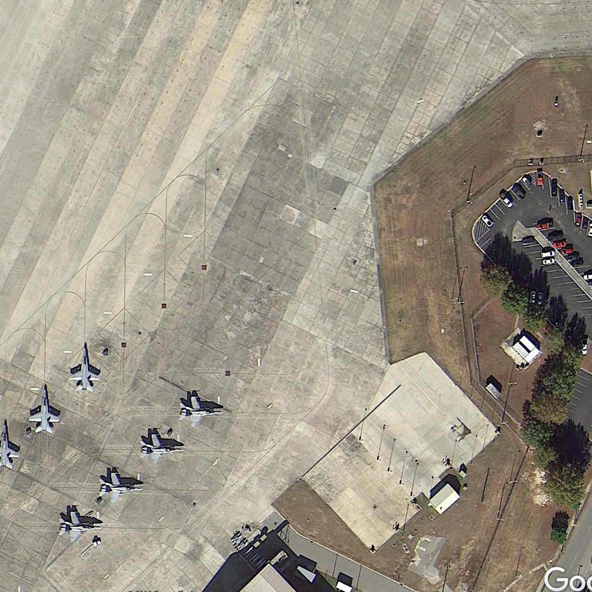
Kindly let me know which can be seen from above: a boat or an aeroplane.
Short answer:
aeroplane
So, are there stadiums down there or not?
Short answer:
No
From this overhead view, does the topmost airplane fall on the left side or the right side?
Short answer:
left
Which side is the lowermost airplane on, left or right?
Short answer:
left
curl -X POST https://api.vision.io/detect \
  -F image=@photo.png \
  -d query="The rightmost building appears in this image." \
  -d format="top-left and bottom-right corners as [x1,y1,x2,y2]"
[512,336,543,364]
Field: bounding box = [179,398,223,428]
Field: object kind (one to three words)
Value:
airplane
